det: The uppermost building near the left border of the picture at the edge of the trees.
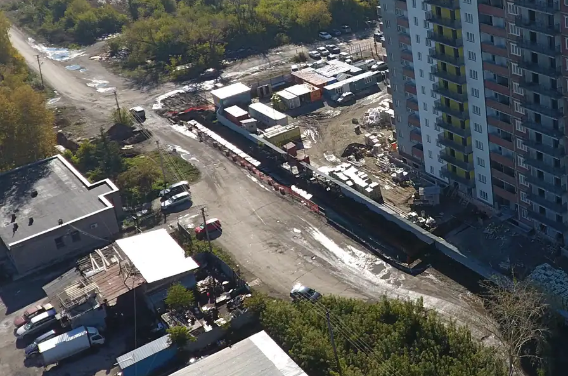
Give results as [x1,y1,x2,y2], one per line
[0,153,125,274]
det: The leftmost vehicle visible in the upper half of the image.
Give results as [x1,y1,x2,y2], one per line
[130,106,145,121]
